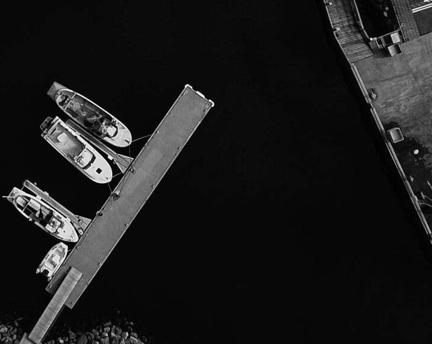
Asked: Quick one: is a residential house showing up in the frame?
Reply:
No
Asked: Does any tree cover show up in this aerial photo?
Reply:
No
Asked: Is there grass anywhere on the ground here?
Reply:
No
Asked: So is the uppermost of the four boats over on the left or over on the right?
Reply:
left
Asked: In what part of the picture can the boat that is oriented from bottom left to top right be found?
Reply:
bottom left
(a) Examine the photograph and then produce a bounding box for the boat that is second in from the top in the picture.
[40,117,113,184]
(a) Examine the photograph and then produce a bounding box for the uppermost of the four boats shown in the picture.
[47,82,132,148]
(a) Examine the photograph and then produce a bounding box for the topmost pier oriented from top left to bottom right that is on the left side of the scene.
[66,119,134,174]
